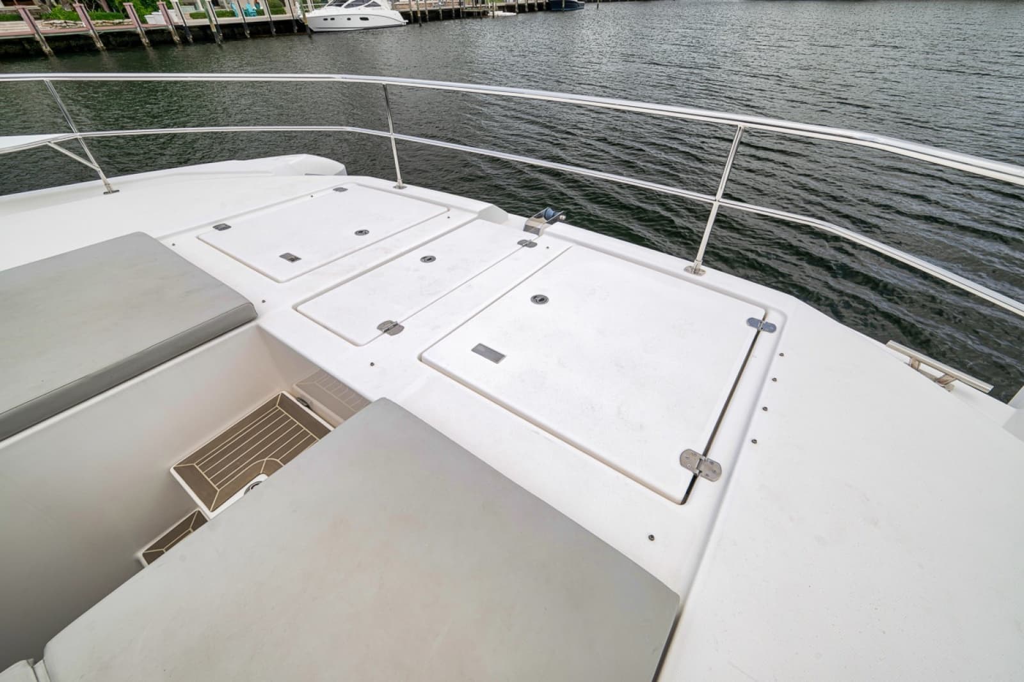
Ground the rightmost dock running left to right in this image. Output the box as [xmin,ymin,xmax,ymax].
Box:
[403,0,554,22]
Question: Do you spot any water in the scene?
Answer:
Yes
